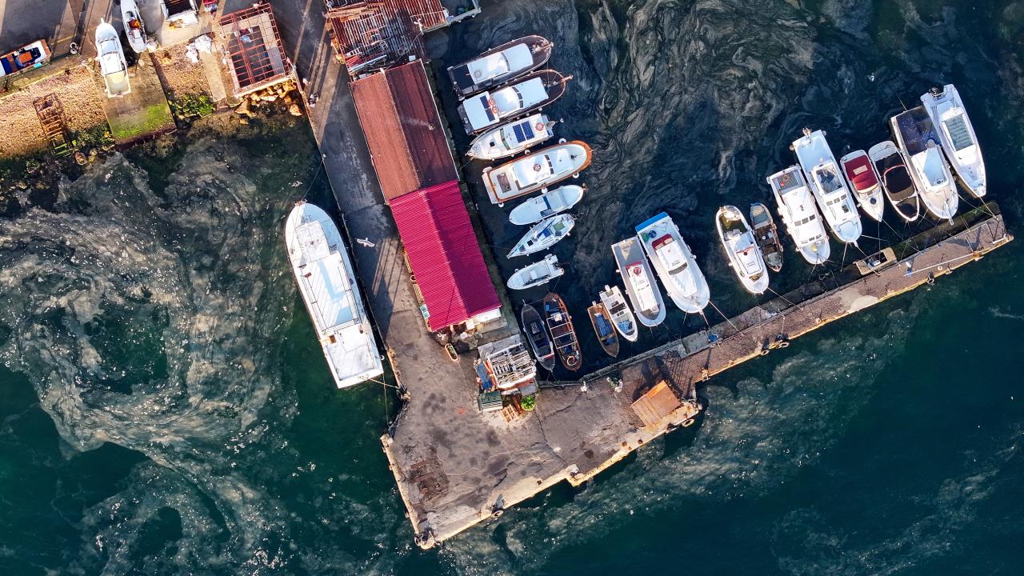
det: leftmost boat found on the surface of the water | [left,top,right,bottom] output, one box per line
[286,200,385,389]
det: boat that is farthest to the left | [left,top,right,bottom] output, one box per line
[0,39,53,78]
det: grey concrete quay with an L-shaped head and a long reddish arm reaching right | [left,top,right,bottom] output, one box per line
[292,0,1009,549]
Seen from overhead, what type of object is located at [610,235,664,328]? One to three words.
boat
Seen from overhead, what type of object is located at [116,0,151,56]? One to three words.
boat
